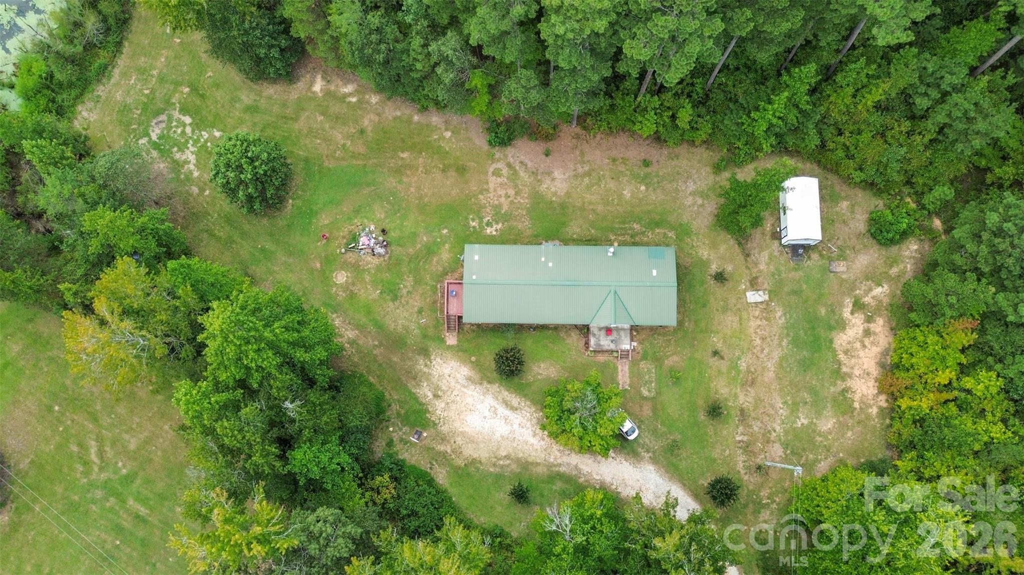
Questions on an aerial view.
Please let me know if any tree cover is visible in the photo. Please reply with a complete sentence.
Yes, tree cover shows up in the scene.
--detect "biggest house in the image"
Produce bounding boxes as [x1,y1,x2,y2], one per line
[462,244,679,327]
